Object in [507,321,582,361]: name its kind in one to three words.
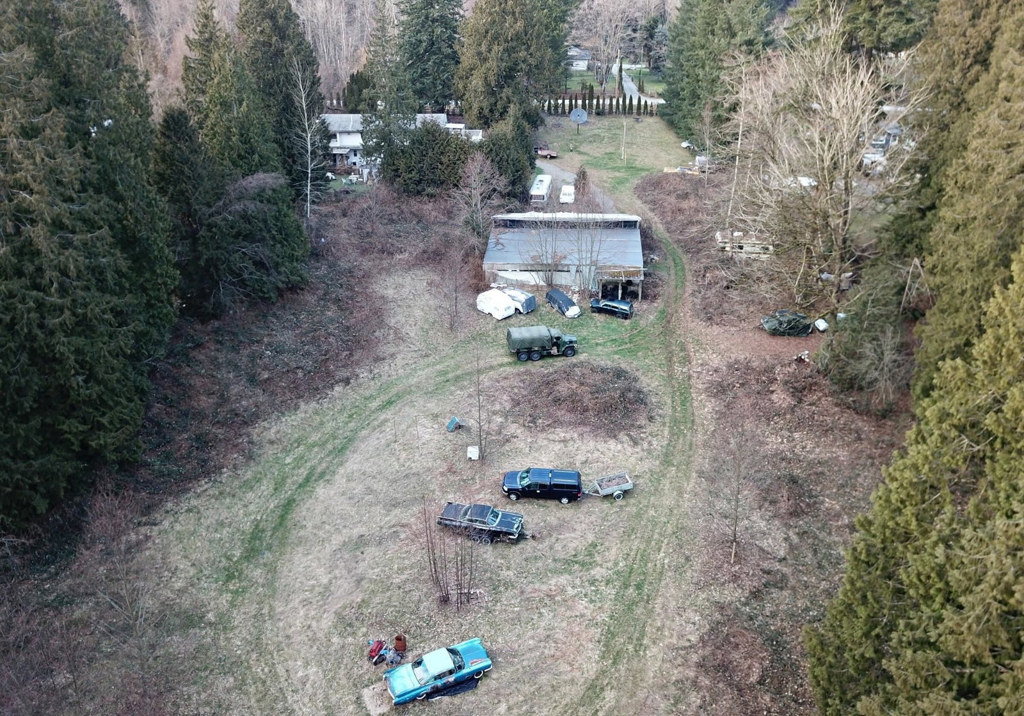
truck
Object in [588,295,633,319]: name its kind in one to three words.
car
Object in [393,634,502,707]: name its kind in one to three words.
car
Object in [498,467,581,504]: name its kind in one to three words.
truck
